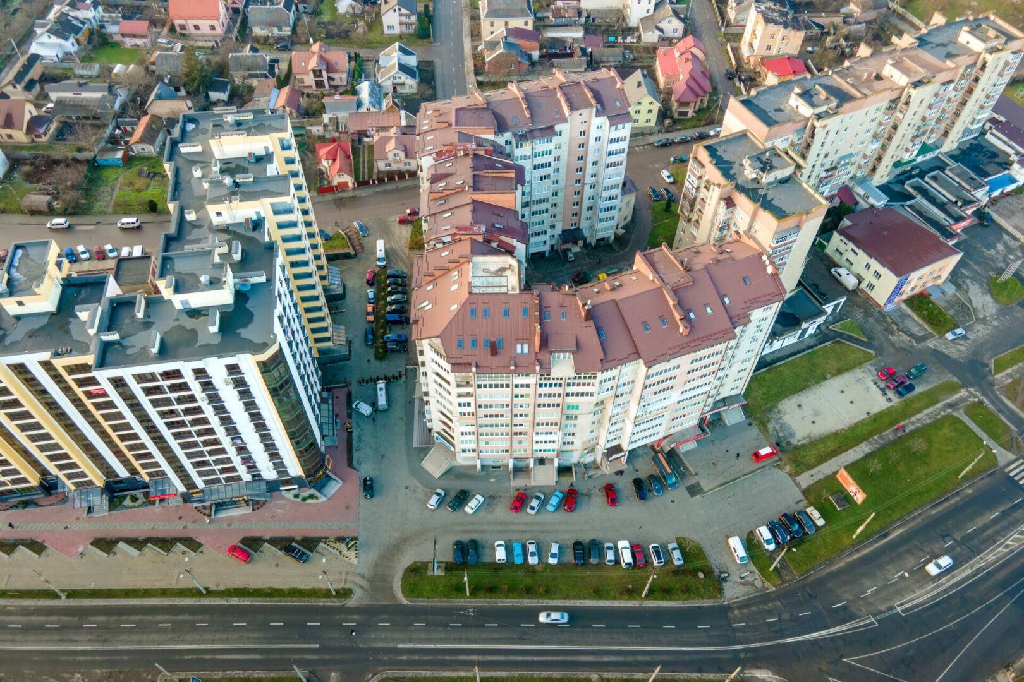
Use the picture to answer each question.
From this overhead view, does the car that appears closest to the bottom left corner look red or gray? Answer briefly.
red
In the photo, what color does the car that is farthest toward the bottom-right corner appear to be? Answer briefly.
white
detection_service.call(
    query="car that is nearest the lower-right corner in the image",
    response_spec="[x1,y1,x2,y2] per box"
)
[923,553,956,577]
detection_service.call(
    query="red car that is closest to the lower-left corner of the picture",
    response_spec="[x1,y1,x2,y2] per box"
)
[225,543,254,566]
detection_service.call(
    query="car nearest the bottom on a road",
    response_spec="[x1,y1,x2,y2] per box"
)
[539,611,569,625]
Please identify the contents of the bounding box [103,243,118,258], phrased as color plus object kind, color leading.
white car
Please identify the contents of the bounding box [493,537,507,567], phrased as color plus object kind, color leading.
white vehicle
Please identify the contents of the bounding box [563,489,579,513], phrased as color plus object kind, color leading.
red car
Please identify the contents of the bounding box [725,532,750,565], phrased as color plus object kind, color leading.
white vehicle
